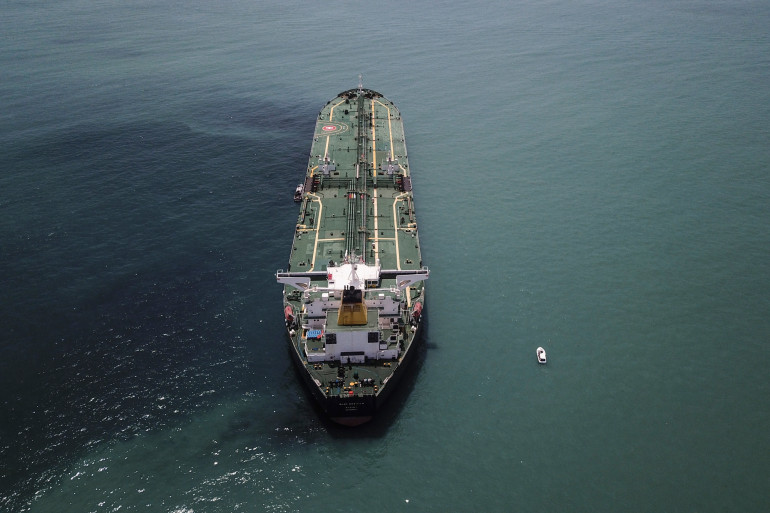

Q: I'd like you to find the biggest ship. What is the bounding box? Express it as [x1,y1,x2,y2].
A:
[272,77,433,425]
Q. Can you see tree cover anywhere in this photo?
No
